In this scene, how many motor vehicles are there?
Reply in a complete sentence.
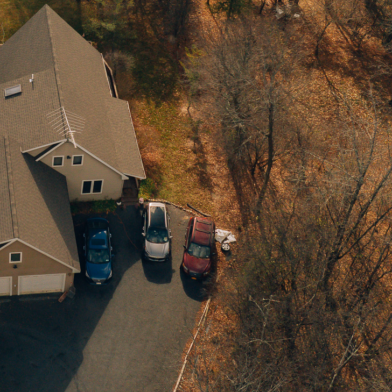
Altogether the scene contains 3 motor vehicles.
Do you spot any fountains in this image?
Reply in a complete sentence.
No, there appears to be no fountain in this shot.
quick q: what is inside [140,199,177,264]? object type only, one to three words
car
